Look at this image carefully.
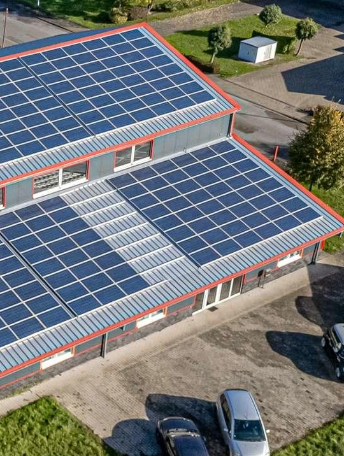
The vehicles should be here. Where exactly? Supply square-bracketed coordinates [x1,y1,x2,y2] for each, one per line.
[153,412,205,456]
[318,321,344,380]
[204,383,269,456]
